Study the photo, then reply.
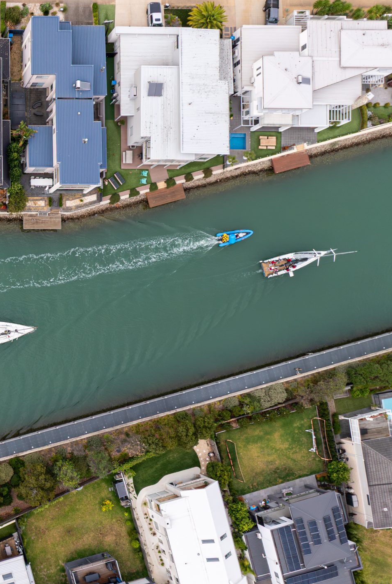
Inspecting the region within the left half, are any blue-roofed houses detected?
Yes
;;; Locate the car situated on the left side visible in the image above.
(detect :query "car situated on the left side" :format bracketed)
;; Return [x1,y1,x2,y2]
[146,1,165,27]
